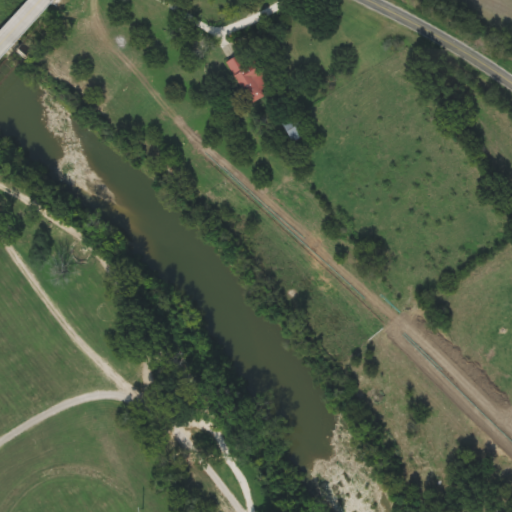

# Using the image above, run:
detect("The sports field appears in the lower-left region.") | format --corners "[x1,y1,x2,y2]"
[0,464,141,512]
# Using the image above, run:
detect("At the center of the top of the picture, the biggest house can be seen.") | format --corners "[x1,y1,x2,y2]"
[226,57,266,102]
